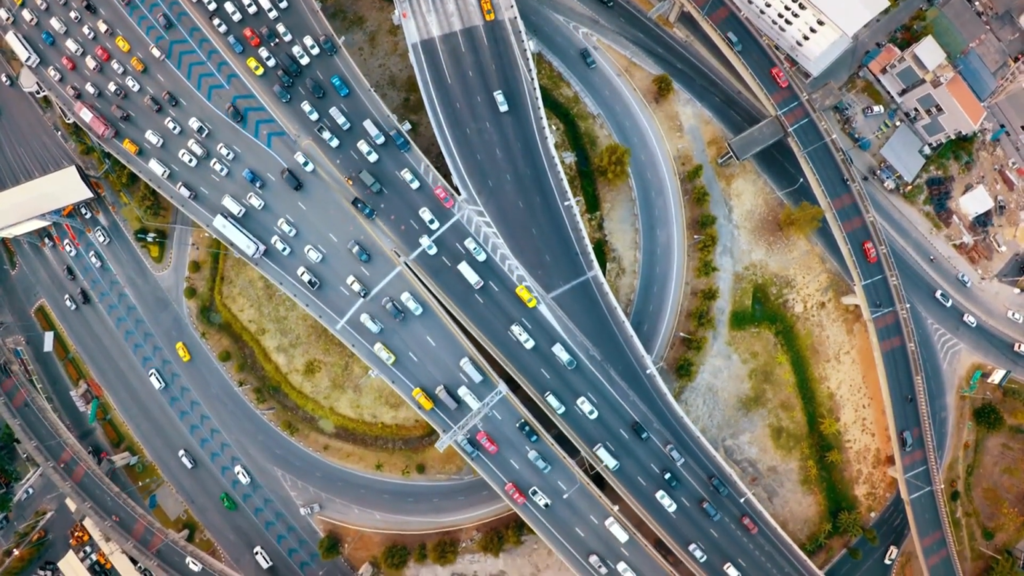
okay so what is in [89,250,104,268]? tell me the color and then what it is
white car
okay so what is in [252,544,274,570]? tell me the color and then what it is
white car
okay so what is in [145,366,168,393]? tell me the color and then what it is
white vehicle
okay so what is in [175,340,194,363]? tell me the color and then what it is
yellow car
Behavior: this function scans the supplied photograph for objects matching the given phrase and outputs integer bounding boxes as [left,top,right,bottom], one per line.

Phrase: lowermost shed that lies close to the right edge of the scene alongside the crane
[947,184,994,222]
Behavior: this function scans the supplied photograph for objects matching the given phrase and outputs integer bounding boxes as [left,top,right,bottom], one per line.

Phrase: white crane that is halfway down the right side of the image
[949,216,984,257]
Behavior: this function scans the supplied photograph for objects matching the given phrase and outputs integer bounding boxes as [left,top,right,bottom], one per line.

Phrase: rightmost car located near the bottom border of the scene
[883,542,898,565]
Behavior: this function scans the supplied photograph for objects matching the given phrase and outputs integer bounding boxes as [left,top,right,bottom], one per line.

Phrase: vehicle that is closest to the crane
[985,234,1001,253]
